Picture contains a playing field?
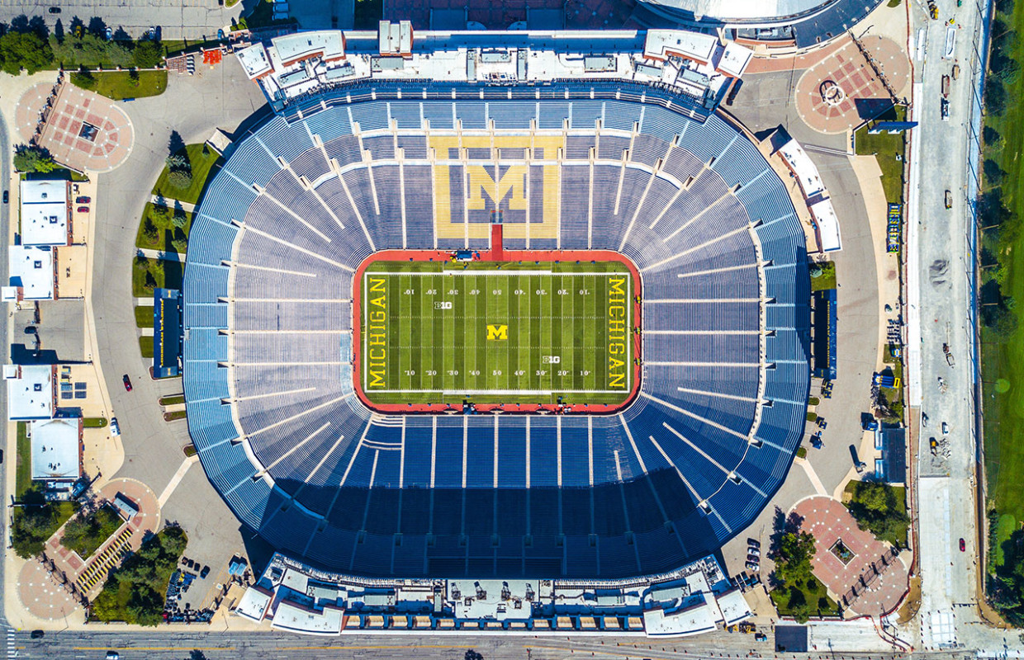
Yes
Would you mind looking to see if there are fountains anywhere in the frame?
Yes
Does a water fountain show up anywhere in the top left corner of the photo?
Yes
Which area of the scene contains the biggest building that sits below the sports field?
bottom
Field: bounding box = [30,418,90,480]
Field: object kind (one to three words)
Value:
building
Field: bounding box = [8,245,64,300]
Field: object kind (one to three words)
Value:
building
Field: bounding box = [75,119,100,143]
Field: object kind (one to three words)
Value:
fountain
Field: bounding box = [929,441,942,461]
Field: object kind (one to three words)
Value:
vehicle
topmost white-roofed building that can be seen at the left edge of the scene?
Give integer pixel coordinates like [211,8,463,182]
[20,180,78,246]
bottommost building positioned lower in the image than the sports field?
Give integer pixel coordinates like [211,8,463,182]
[234,544,755,639]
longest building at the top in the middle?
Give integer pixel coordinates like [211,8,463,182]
[235,20,756,134]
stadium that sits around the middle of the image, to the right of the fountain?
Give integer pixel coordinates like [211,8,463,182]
[183,100,811,576]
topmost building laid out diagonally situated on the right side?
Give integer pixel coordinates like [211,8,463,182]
[775,138,826,197]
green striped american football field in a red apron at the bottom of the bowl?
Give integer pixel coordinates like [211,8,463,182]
[361,261,635,404]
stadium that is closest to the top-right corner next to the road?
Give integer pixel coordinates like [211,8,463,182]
[595,0,906,61]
